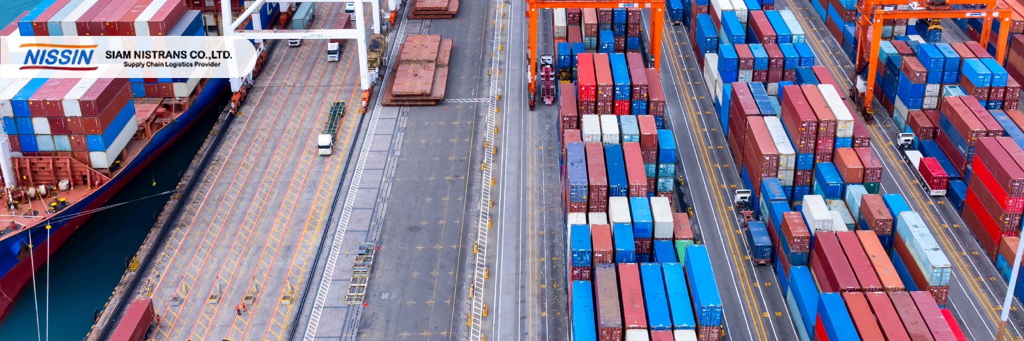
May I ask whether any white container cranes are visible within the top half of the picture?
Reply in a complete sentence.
Yes, a white container crane can be seen within the top half of the picture.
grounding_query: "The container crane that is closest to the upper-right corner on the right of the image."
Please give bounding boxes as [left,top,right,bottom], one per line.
[844,0,1013,120]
